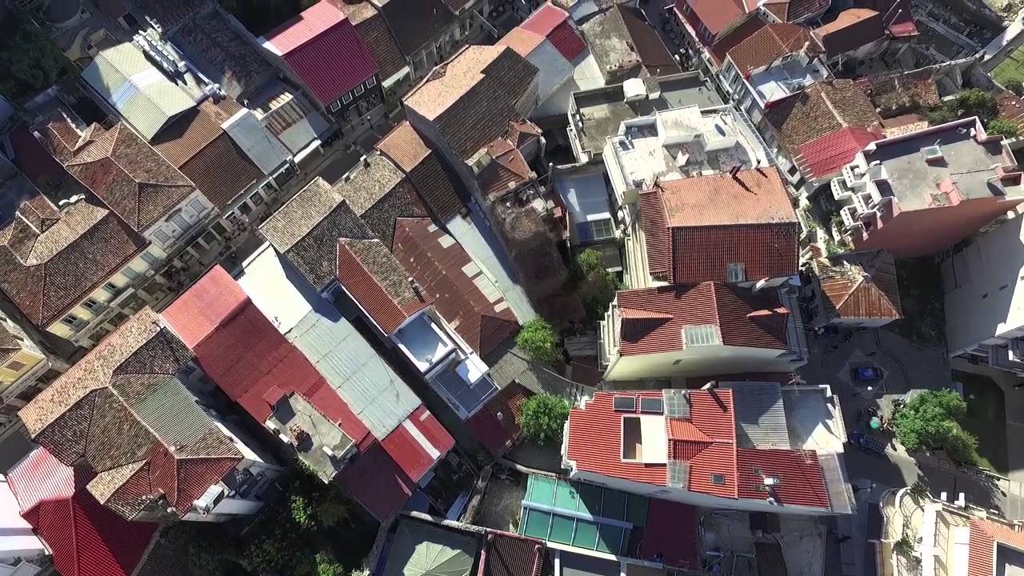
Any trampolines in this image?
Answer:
No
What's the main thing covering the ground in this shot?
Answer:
buildings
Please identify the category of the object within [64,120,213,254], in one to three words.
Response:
house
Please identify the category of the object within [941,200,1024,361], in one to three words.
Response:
house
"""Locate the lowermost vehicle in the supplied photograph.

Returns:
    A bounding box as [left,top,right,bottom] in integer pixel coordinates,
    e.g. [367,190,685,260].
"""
[847,430,895,458]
